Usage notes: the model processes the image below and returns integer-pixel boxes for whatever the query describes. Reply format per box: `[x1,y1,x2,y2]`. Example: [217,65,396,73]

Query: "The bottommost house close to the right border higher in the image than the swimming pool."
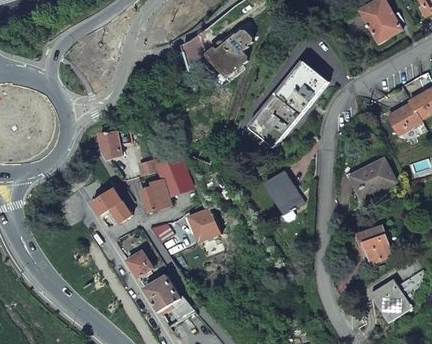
[388,88,432,144]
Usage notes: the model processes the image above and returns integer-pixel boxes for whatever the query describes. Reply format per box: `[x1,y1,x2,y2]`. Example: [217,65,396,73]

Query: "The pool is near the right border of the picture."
[410,158,432,178]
